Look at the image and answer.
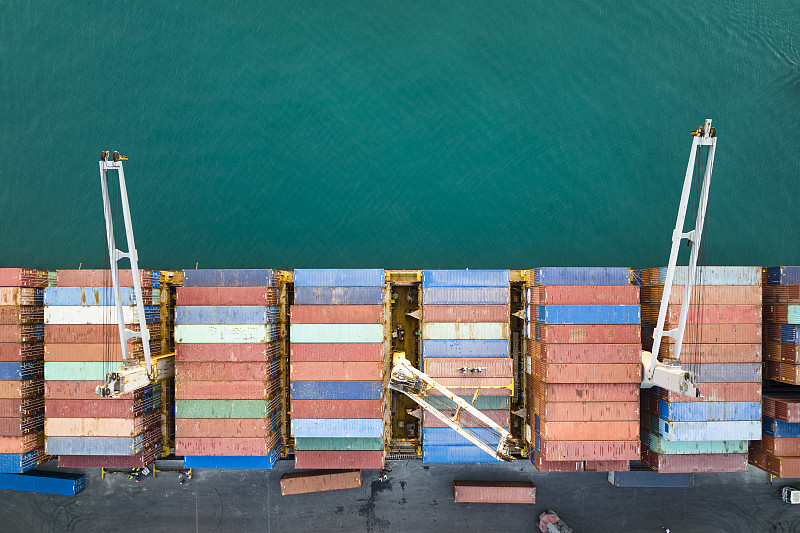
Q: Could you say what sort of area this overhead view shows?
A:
port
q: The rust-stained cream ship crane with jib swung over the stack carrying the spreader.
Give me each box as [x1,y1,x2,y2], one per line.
[385,348,519,463]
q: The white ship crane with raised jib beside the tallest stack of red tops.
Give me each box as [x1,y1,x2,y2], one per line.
[641,116,720,406]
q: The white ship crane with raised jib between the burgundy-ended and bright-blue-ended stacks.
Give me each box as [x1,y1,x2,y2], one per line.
[92,147,176,404]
